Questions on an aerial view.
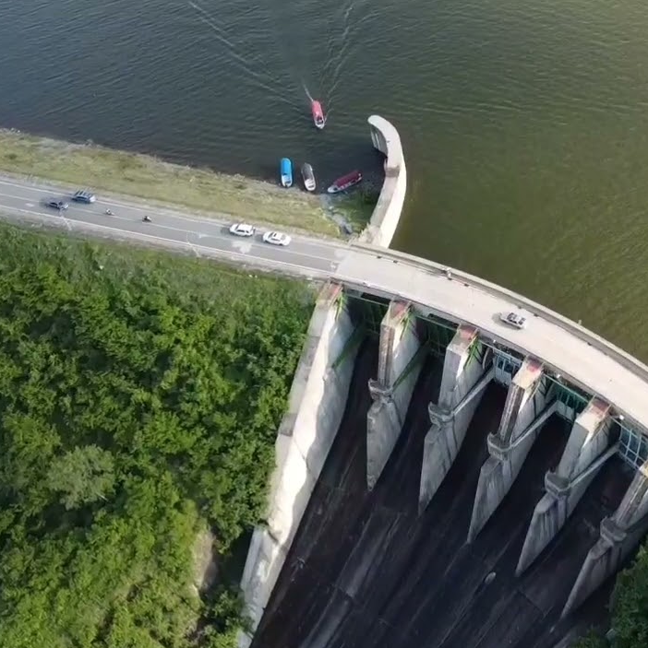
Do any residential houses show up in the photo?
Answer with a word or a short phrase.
No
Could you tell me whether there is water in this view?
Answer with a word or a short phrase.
Yes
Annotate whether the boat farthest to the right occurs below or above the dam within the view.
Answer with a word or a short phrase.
above it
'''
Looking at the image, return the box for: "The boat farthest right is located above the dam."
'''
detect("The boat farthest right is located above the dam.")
[327,171,363,193]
